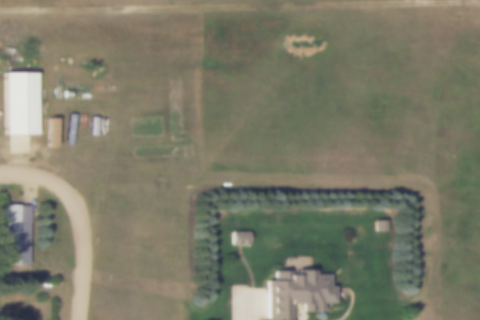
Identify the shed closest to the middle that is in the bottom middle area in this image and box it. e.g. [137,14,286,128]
[234,230,256,246]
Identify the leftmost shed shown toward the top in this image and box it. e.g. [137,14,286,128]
[6,72,42,134]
